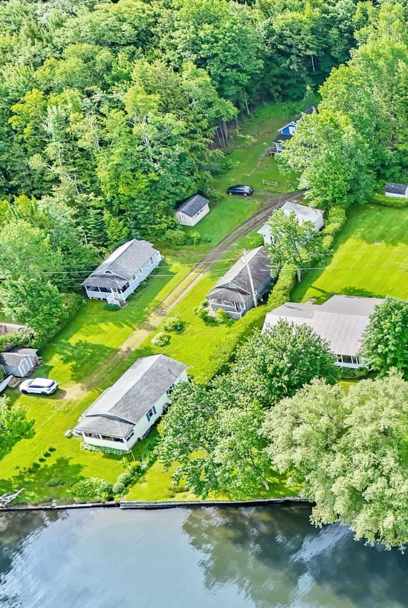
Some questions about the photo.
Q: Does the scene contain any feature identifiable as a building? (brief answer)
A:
Yes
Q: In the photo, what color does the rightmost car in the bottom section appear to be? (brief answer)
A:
white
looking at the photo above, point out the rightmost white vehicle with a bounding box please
[15,376,60,397]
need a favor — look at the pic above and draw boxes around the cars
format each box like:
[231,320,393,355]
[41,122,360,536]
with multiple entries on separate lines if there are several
[225,185,254,196]
[15,376,60,397]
